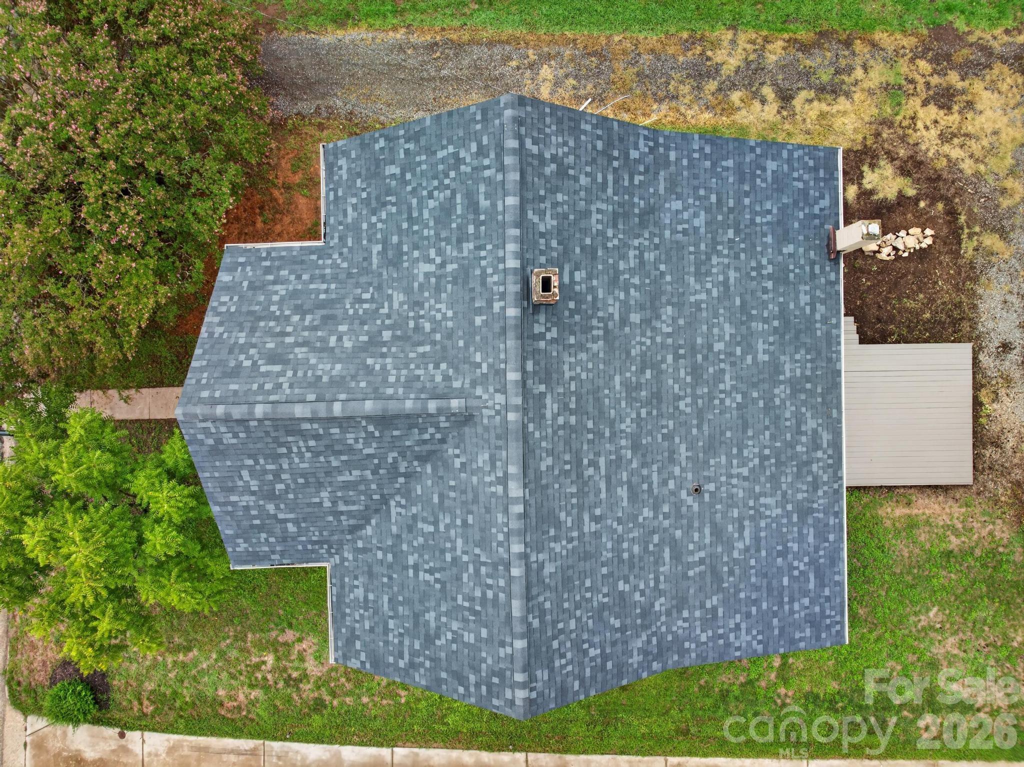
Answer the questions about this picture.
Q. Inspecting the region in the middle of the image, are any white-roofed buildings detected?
No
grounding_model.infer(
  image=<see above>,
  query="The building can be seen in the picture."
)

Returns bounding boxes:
[176,93,880,723]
